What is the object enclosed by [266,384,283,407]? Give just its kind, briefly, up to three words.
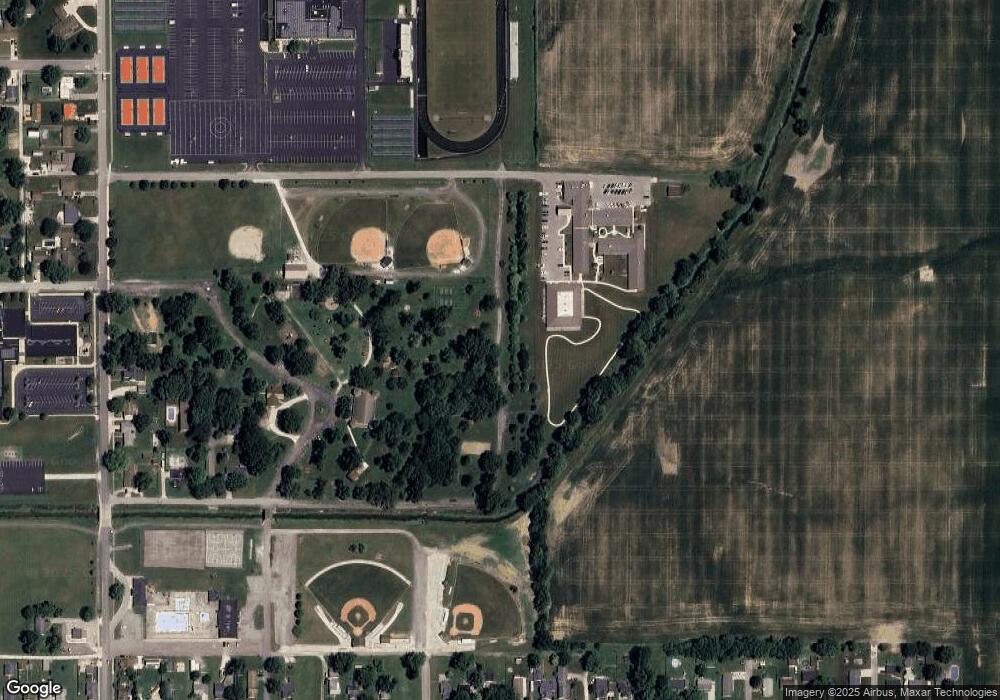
house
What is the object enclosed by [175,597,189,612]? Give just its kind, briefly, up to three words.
swimming pool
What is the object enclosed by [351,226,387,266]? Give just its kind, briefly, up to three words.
baseball field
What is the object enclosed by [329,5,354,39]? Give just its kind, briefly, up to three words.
building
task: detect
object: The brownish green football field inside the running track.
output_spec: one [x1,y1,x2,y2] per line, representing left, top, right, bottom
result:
[428,0,496,140]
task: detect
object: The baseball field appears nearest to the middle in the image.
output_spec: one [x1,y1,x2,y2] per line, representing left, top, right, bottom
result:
[427,228,465,268]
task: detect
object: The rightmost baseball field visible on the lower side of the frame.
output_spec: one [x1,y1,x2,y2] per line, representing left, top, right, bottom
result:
[446,603,483,640]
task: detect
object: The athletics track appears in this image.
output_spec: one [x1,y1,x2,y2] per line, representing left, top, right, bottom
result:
[415,0,509,158]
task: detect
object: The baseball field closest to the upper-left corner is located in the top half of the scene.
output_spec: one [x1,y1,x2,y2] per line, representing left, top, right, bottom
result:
[229,226,266,264]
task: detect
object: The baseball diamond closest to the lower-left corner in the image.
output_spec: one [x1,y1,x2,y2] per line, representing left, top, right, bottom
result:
[307,562,402,639]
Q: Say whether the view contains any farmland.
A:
Yes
